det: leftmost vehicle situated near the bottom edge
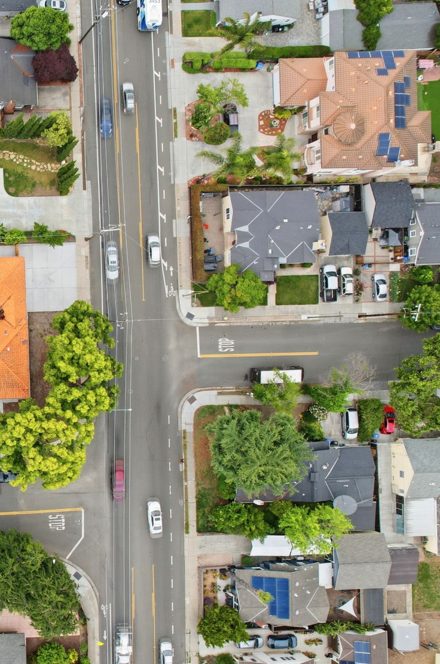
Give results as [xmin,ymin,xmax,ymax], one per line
[115,626,134,664]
